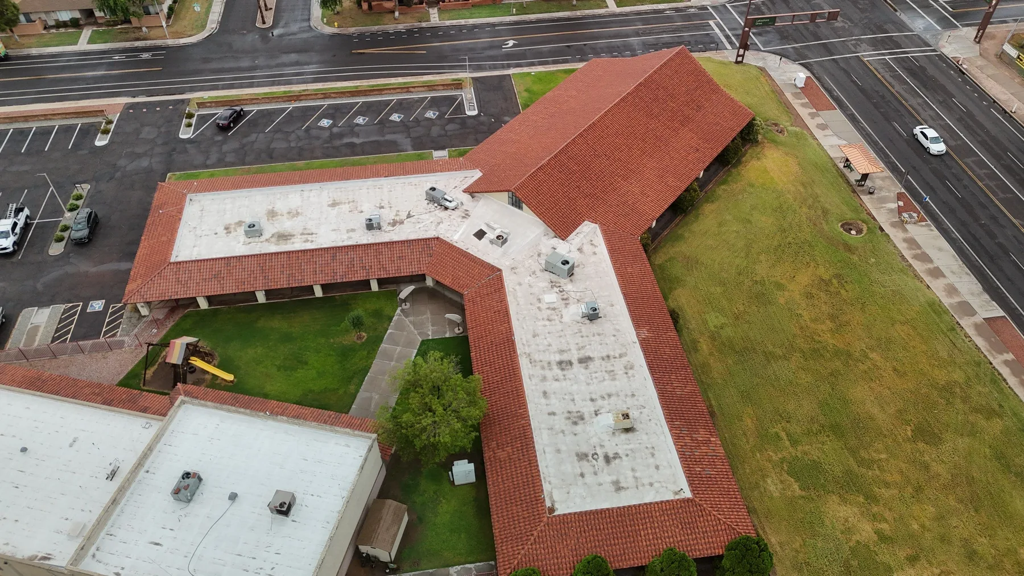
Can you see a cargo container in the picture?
No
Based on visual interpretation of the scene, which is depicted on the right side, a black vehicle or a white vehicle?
white vehicle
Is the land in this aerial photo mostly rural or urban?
urban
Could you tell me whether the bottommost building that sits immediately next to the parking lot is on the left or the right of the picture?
left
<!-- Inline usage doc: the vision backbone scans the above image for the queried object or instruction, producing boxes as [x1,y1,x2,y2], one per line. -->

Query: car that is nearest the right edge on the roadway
[915,126,949,153]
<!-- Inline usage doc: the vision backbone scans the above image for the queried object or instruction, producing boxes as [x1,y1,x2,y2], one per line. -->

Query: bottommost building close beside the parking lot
[0,360,402,576]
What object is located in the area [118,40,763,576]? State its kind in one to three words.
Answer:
church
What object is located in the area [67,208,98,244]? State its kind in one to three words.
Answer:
car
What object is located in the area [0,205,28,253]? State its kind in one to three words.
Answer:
truck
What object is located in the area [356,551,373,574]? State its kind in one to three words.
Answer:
work vehicle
